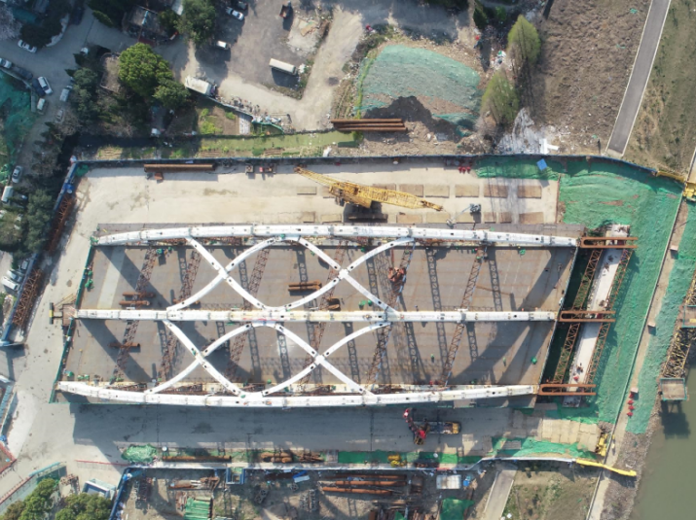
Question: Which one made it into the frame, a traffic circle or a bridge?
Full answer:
Looking from above, you can make out a bridge.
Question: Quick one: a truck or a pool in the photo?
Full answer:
There is a truck in the scene.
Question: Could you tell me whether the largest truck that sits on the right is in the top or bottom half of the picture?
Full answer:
The largest truck that sits on the right sits in the bottom half of the picture.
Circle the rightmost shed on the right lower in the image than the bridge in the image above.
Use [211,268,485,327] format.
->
[436,474,462,490]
